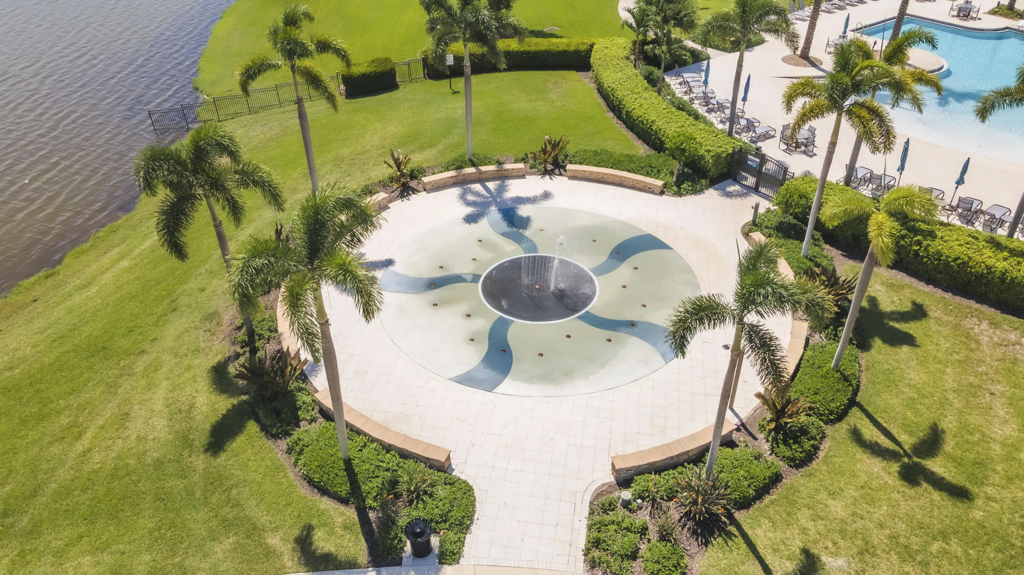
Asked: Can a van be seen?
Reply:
No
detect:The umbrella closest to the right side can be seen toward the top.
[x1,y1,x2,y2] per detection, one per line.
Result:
[953,154,970,199]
